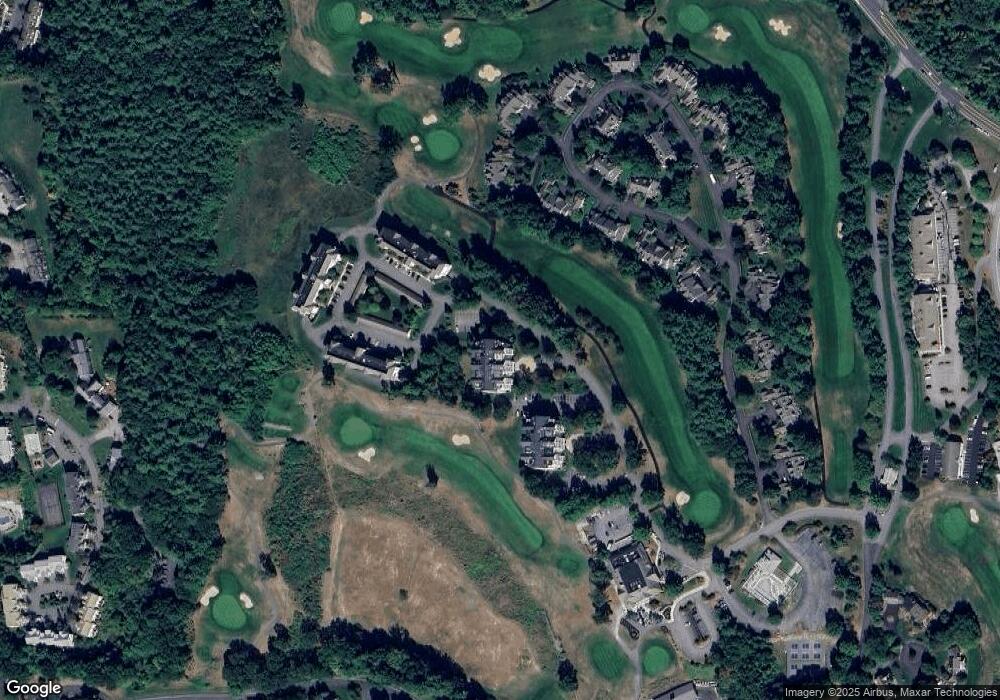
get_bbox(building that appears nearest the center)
[469,338,513,394]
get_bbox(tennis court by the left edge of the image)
[37,482,62,526]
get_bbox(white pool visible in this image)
[0,499,22,536]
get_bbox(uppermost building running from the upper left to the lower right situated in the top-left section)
[0,168,30,211]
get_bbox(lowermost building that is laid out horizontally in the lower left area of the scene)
[23,629,77,648]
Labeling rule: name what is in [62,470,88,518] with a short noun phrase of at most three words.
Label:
building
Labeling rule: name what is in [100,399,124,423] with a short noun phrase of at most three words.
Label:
barn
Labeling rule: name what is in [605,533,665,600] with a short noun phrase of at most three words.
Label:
building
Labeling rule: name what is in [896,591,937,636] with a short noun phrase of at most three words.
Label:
house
